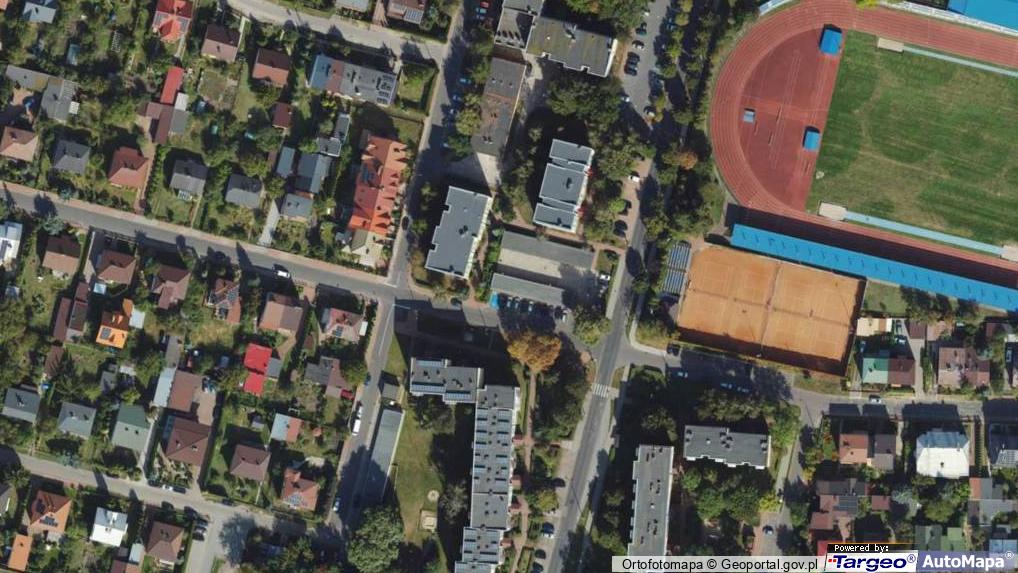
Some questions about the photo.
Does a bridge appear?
No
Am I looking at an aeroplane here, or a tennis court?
tennis court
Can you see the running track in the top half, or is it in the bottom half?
top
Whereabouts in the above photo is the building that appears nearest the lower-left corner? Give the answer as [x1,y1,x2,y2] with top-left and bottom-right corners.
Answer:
[8,534,32,571]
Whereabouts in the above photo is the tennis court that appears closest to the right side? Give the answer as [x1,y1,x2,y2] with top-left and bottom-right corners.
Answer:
[802,272,866,376]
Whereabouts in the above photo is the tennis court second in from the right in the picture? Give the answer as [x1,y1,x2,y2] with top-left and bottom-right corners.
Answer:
[761,264,823,366]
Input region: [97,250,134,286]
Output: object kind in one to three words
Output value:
house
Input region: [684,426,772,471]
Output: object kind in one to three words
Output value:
building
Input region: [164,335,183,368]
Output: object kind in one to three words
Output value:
shed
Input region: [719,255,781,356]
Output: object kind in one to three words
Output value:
tennis court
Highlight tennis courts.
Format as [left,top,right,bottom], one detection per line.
[761,264,823,366]
[677,246,741,347]
[719,255,781,356]
[802,272,866,376]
